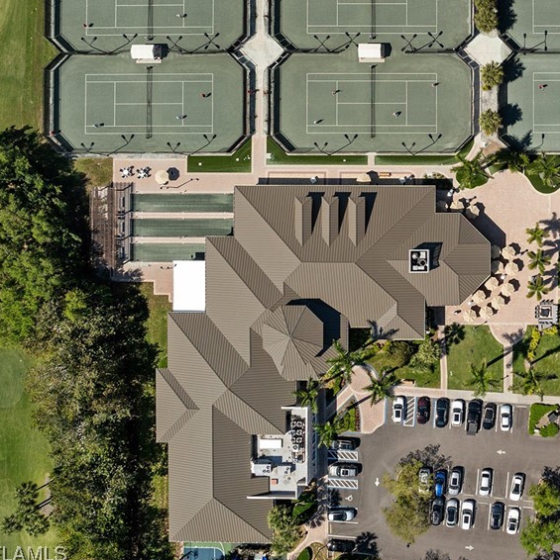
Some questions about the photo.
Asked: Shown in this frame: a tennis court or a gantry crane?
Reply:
tennis court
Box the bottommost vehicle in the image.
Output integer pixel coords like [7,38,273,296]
[327,540,353,556]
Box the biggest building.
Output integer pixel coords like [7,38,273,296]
[155,185,491,543]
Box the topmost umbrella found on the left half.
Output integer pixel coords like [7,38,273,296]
[154,169,169,184]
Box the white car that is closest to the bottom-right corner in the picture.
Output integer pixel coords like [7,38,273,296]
[507,509,520,537]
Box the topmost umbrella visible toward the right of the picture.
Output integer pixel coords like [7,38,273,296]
[358,171,372,185]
